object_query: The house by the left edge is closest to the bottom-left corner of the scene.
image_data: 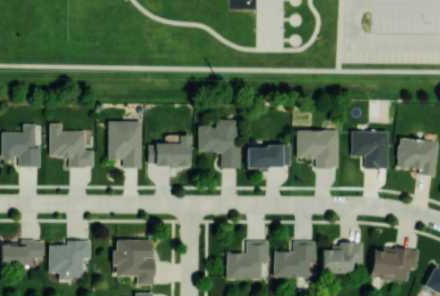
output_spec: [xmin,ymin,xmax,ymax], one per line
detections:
[2,240,44,266]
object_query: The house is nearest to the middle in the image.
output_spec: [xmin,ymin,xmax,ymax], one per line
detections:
[198,120,242,168]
